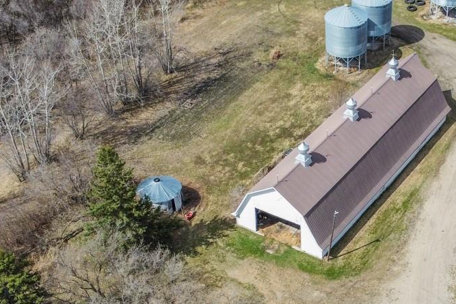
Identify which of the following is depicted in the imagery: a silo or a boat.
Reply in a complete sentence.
The image shows a silo.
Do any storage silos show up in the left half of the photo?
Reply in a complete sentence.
No, there's no storage silo to be seen in the left half of the photo.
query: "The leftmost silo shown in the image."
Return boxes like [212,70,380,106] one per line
[326,3,366,71]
